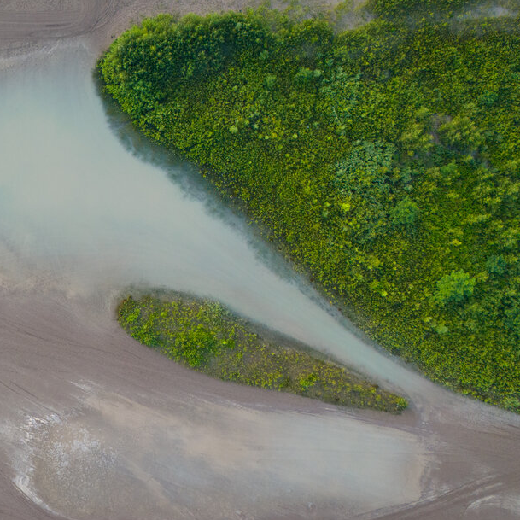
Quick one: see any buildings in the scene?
No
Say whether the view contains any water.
Yes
